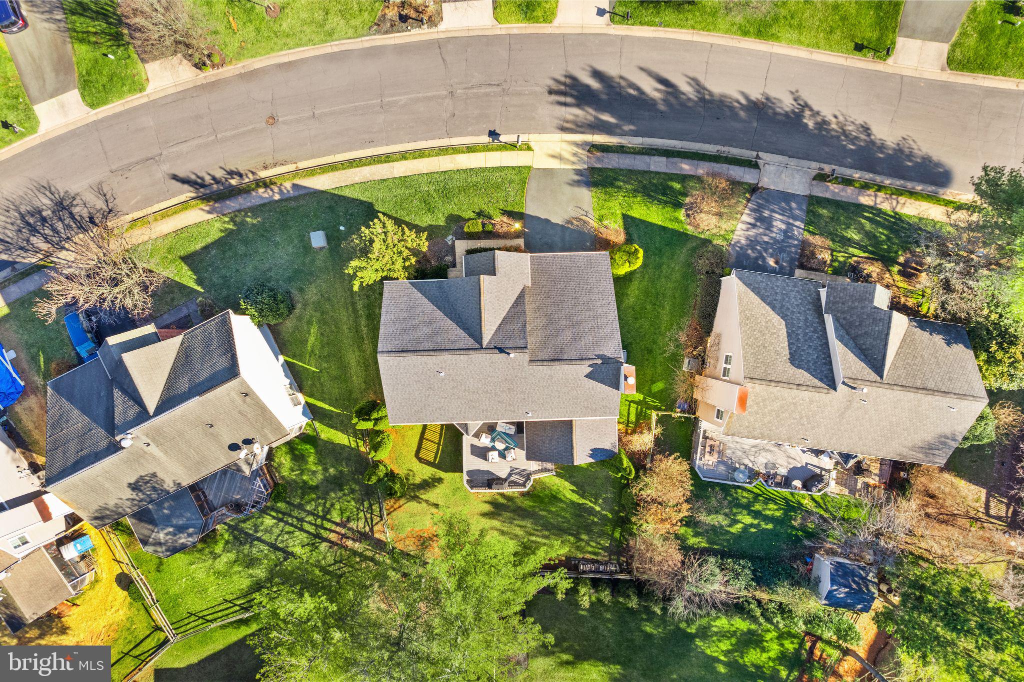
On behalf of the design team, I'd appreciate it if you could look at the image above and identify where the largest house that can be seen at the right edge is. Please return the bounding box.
[696,268,993,469]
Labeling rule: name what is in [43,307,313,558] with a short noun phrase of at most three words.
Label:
house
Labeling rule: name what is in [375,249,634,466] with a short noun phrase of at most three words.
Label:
house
